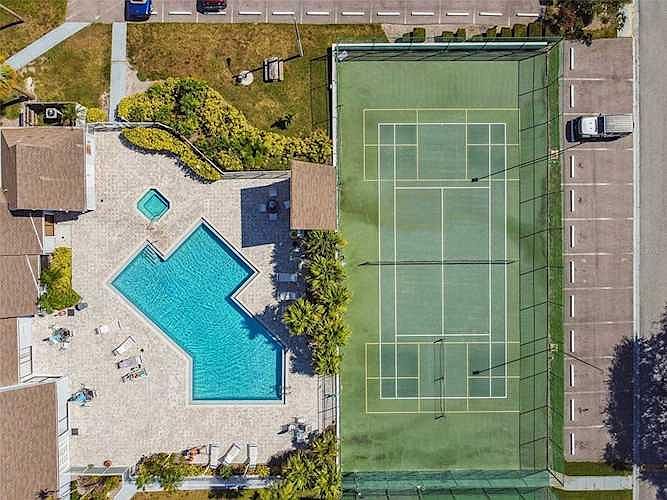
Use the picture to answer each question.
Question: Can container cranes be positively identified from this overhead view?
No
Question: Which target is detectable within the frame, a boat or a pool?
pool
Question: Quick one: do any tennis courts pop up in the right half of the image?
Yes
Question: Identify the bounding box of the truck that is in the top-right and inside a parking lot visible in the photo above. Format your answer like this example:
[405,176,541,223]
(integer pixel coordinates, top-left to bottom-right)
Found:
[565,113,633,141]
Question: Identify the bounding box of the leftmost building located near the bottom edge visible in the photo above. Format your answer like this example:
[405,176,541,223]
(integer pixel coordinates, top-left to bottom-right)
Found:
[0,376,68,500]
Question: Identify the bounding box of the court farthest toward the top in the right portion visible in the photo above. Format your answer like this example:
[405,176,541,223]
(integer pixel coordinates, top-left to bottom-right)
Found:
[337,45,549,469]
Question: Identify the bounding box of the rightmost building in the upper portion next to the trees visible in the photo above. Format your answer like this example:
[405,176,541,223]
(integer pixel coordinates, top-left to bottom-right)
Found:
[290,160,335,230]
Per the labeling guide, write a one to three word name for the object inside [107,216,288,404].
swimming pool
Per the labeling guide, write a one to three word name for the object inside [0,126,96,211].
building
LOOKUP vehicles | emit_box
[565,113,633,141]
[205,0,227,10]
[132,0,157,19]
